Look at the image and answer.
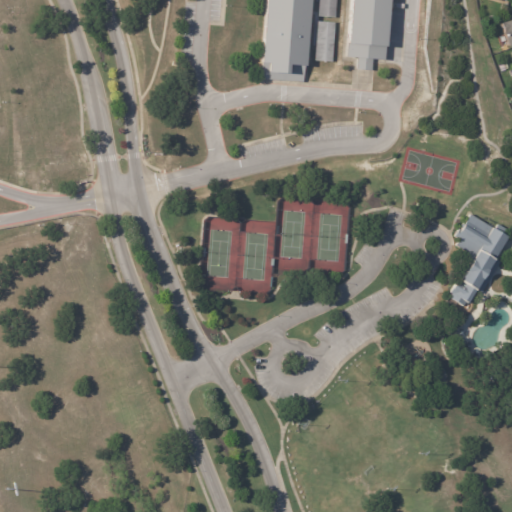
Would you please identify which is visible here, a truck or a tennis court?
tennis court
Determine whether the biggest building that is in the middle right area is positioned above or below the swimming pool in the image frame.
above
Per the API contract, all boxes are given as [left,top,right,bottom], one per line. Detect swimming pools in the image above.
[467,301,512,354]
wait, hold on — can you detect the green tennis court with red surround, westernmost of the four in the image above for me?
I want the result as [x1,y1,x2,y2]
[200,218,240,290]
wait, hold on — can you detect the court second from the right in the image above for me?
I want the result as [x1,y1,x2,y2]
[310,204,350,272]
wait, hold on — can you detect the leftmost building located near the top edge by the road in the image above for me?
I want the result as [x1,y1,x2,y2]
[262,0,314,82]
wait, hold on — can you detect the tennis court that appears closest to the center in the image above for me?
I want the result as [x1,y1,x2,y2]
[236,220,276,292]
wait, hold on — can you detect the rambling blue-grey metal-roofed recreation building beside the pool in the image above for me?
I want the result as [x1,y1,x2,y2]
[450,212,509,306]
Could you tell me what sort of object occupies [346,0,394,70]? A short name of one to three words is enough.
building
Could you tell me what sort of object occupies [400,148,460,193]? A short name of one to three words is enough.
basketball court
